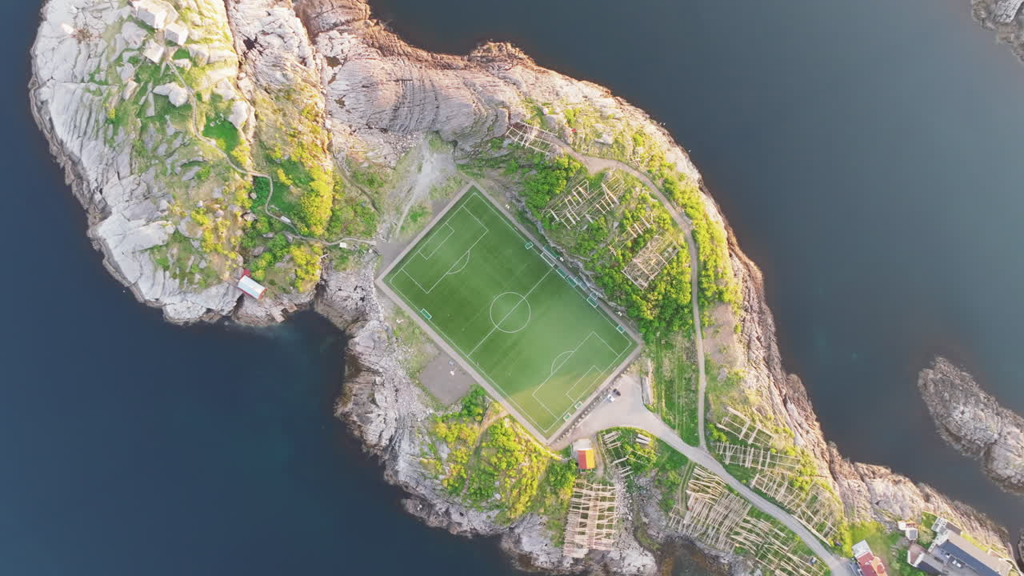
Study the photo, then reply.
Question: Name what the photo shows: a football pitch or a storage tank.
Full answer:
Looking from above, you can make out a football pitch.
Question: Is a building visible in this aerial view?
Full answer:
Yes, a building appears in the view.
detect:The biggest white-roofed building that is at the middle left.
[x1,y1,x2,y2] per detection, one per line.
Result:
[239,275,267,299]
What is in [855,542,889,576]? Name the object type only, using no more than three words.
house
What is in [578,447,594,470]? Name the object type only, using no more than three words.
house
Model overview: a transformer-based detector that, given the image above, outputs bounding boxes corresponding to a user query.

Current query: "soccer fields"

[383,186,638,438]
